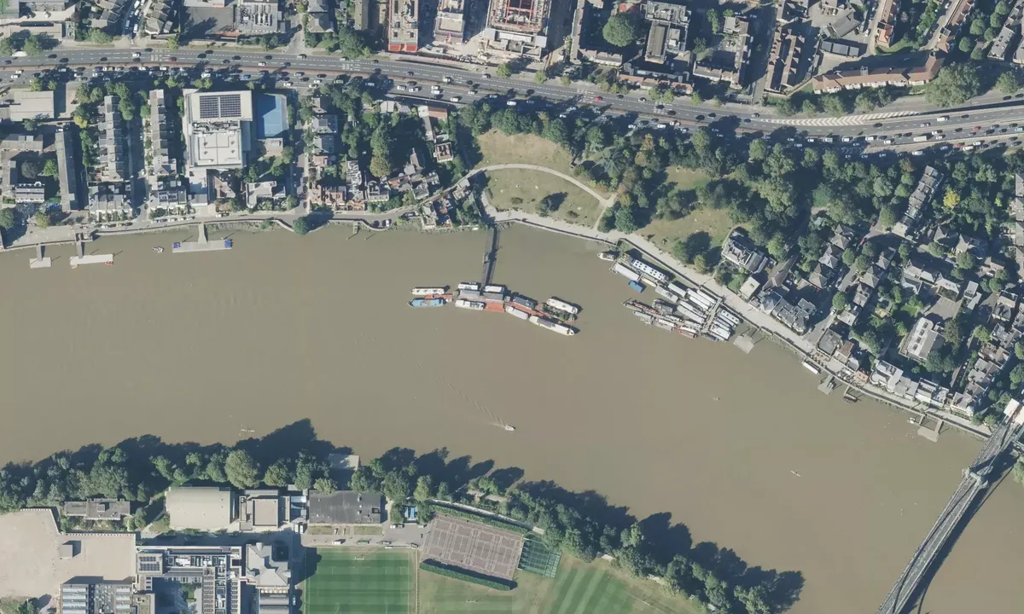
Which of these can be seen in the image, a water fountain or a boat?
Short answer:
boat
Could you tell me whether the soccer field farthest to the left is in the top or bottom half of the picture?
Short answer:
bottom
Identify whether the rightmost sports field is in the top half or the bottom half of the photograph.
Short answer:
bottom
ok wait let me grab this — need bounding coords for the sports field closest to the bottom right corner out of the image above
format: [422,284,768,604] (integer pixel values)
[528,560,675,614]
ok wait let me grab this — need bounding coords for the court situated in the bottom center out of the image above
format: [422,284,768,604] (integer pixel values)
[422,514,523,580]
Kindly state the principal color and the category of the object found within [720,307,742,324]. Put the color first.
white boat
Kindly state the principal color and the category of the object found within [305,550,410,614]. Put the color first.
green soccer field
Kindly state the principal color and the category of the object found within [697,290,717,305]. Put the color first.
white boat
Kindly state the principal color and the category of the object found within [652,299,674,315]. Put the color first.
gray boat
